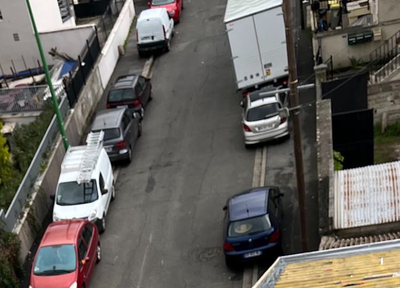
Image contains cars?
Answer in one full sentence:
Yes, there's a car down there.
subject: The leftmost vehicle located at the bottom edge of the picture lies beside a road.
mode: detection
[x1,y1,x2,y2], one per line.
[21,220,97,288]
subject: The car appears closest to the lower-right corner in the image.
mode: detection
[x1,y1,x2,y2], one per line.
[223,186,286,261]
